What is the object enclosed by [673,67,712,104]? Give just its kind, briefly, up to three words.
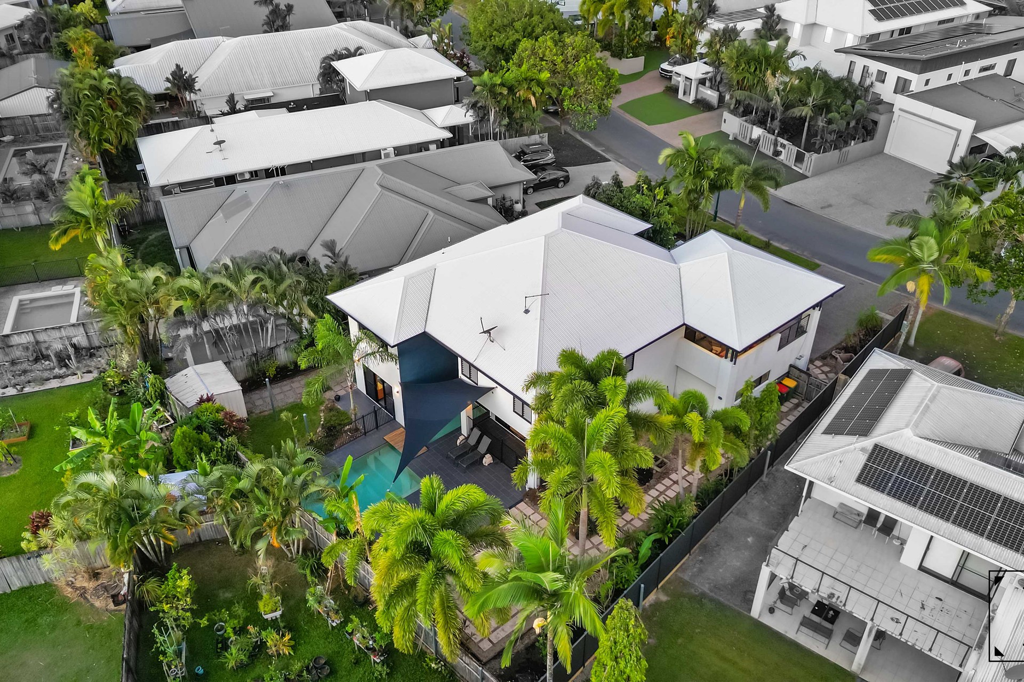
building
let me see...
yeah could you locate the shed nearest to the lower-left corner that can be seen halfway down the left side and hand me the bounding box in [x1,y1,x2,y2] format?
[168,359,246,427]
